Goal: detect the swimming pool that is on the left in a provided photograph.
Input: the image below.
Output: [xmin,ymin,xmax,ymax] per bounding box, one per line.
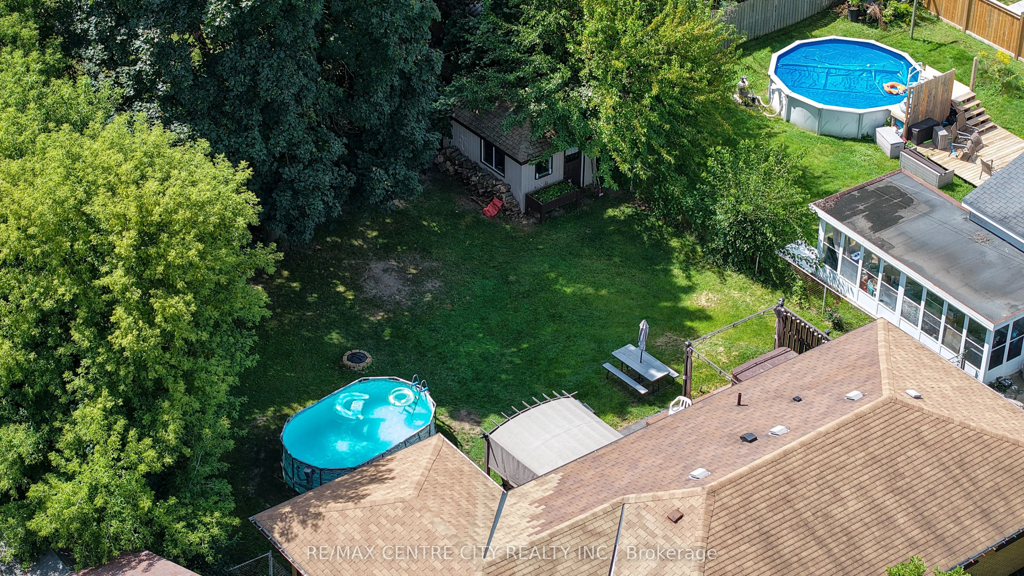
[279,375,440,491]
